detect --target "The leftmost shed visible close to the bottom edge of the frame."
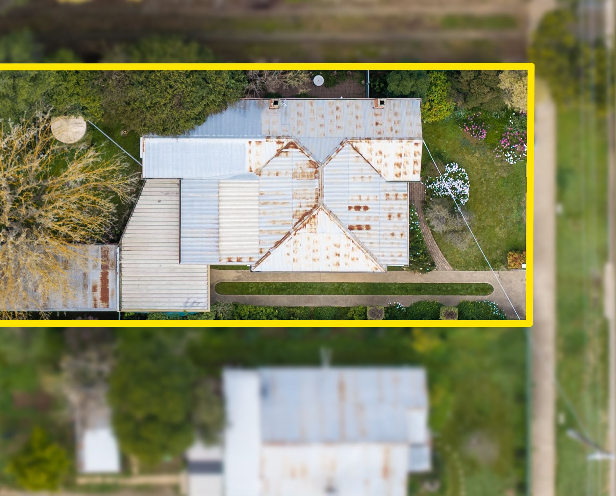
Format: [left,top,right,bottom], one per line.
[81,425,120,473]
